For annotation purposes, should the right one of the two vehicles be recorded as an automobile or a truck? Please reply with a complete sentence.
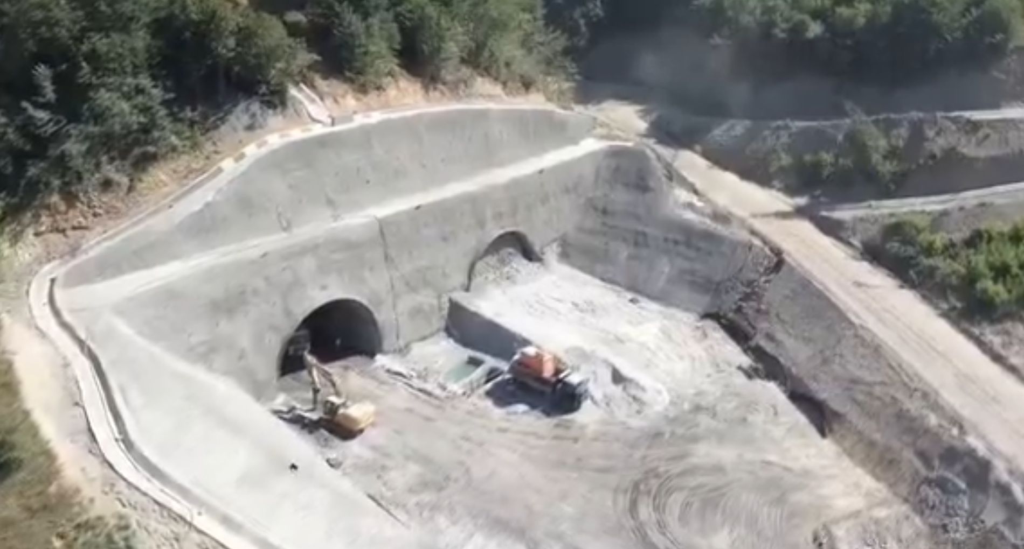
In the photo, the right one of the two vehicles shows up as a truck.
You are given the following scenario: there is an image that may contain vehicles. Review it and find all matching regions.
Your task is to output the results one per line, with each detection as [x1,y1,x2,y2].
[308,350,378,445]
[508,340,595,413]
